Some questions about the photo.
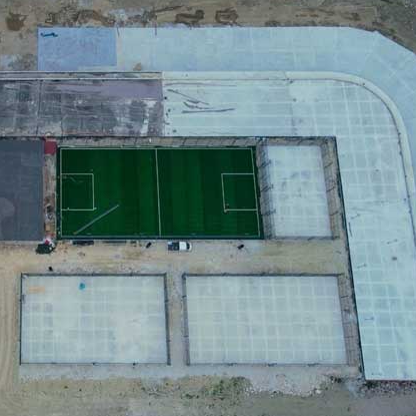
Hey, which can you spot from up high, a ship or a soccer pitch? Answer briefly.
soccer pitch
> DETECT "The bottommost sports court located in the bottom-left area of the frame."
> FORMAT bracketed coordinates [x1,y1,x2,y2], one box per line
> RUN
[20,275,168,364]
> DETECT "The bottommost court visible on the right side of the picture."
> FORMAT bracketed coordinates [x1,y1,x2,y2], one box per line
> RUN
[184,275,348,364]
